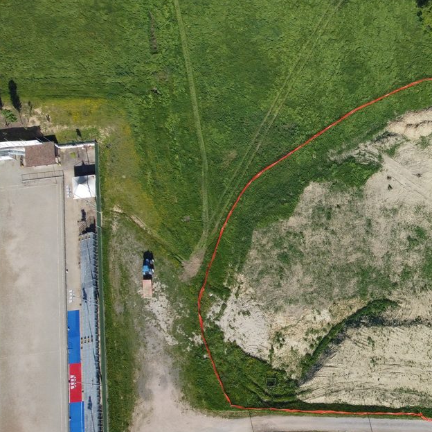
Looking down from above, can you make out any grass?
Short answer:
Yes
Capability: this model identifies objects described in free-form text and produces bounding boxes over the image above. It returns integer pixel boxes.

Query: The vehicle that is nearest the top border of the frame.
[138,258,152,277]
